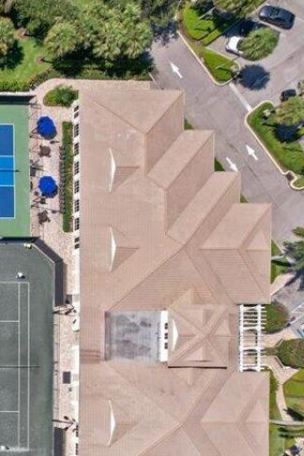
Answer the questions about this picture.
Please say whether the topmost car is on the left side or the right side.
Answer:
right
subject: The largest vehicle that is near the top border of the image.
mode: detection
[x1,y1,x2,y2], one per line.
[258,5,299,28]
